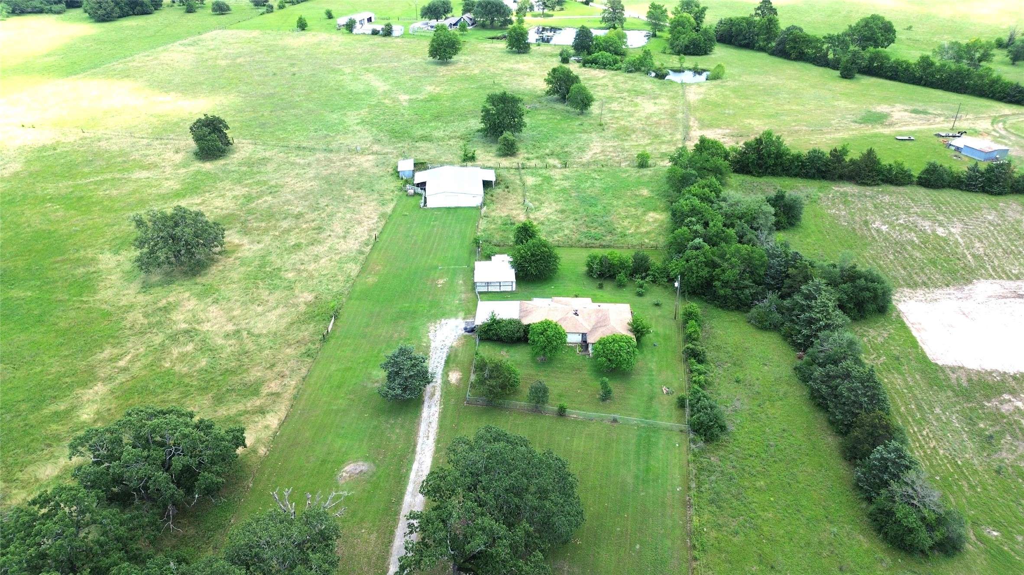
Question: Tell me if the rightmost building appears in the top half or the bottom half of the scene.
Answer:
top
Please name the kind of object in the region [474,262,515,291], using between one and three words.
shed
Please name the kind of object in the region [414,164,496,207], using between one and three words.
barn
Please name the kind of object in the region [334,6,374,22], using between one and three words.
barn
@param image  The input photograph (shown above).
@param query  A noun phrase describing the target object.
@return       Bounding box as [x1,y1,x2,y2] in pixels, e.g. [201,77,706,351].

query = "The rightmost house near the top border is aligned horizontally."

[426,5,477,28]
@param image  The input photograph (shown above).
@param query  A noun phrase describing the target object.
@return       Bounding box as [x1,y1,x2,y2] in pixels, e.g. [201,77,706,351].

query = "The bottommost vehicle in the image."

[464,321,476,333]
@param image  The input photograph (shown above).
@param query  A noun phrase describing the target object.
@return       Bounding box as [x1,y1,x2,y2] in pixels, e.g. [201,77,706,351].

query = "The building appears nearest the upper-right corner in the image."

[950,132,1008,161]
